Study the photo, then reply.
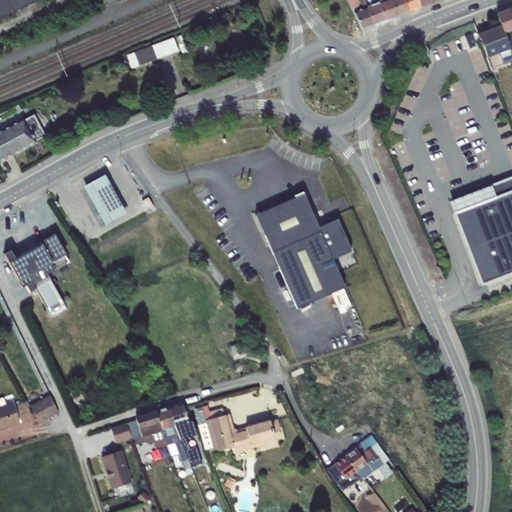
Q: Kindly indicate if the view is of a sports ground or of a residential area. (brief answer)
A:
residential area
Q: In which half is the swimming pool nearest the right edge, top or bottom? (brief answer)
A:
bottom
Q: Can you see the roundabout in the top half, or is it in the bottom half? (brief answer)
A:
top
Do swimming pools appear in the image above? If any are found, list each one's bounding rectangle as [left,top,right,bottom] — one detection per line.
[210,503,220,512]
[230,457,258,512]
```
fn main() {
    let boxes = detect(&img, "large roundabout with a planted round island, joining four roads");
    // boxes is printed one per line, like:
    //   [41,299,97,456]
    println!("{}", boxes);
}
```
[280,40,376,133]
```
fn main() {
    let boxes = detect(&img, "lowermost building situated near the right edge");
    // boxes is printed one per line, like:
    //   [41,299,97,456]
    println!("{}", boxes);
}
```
[449,177,512,290]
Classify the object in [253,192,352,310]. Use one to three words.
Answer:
building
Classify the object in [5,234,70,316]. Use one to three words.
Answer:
house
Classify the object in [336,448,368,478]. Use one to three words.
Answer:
house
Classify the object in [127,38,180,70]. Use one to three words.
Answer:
shed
